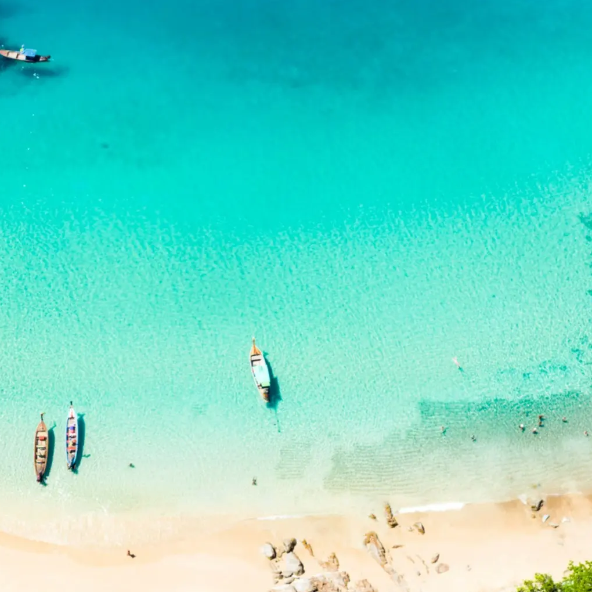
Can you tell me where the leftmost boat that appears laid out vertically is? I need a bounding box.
[33,416,49,492]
